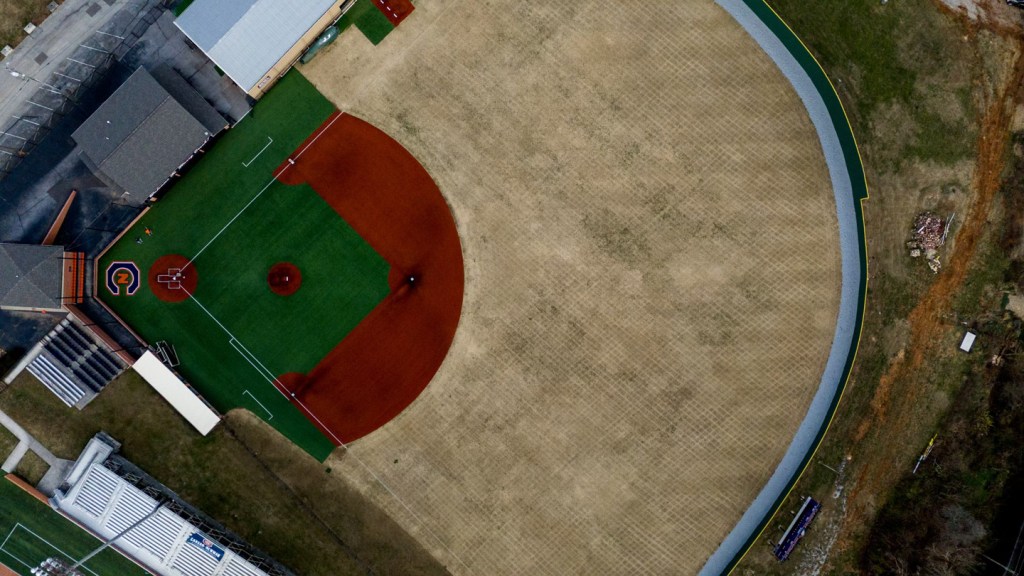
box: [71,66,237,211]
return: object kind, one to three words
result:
building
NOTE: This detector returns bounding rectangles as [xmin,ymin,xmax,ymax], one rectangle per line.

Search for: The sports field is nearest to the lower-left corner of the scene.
[0,472,152,576]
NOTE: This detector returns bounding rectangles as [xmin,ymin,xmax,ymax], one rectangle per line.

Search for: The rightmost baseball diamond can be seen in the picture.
[99,0,860,576]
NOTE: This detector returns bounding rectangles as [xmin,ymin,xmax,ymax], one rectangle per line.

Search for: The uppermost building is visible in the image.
[171,0,359,98]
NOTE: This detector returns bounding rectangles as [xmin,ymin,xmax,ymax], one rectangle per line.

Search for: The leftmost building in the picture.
[0,244,78,315]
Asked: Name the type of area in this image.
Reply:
sports ground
